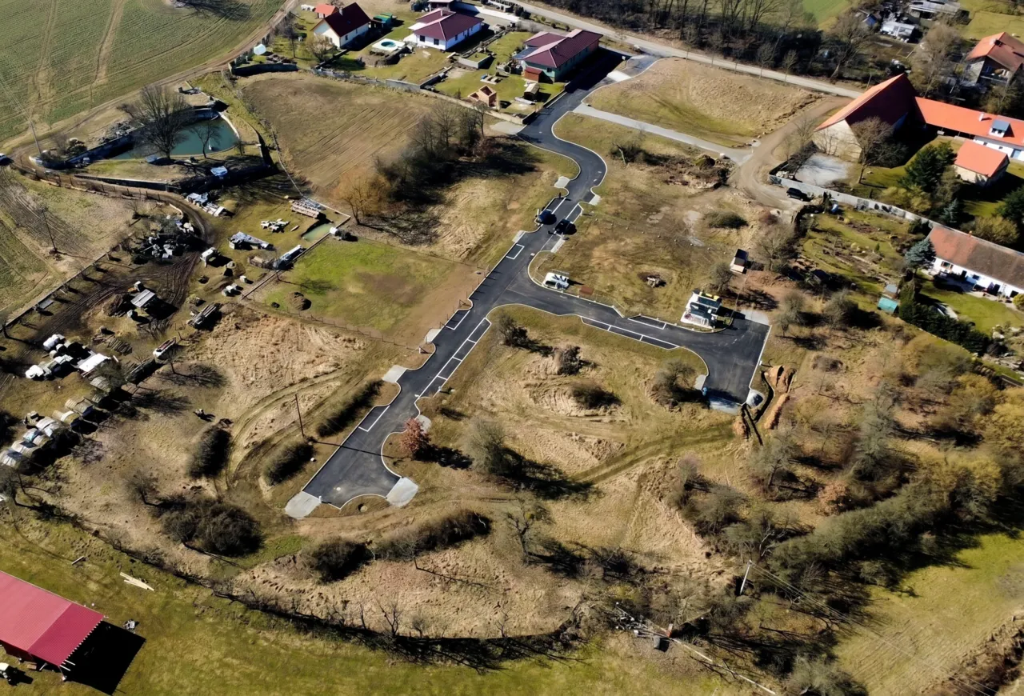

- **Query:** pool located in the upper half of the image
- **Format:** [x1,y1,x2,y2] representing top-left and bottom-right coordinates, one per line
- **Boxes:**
[371,36,406,54]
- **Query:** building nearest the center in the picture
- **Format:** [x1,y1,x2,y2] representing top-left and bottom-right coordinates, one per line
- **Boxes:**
[679,285,722,329]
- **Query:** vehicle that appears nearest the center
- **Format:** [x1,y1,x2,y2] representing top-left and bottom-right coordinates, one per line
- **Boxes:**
[543,272,568,287]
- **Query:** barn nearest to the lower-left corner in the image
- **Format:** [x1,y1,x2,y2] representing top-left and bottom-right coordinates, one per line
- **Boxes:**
[0,571,108,679]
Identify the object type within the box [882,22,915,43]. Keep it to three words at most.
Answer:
greenhouse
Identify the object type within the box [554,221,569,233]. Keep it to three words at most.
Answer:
vehicle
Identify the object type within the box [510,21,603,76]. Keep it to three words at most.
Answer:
house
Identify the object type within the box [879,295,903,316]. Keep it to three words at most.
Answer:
shed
